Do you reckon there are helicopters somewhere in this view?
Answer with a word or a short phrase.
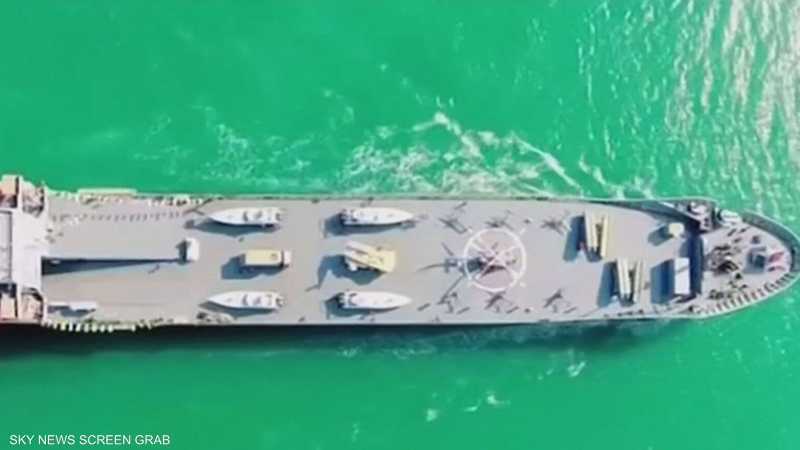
Yes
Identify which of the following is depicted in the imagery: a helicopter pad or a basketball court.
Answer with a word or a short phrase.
helicopter pad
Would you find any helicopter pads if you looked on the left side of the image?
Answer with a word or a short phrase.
No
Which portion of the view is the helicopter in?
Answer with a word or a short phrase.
center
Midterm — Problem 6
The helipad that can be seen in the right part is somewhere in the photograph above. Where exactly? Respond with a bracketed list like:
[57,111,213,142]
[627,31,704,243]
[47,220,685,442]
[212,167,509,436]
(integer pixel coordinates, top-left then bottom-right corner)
[463,229,527,291]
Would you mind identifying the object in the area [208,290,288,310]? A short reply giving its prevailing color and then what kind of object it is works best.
white boat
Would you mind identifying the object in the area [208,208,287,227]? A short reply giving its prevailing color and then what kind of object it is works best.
white boat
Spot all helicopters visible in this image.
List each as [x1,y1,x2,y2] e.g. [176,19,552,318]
[437,227,527,289]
